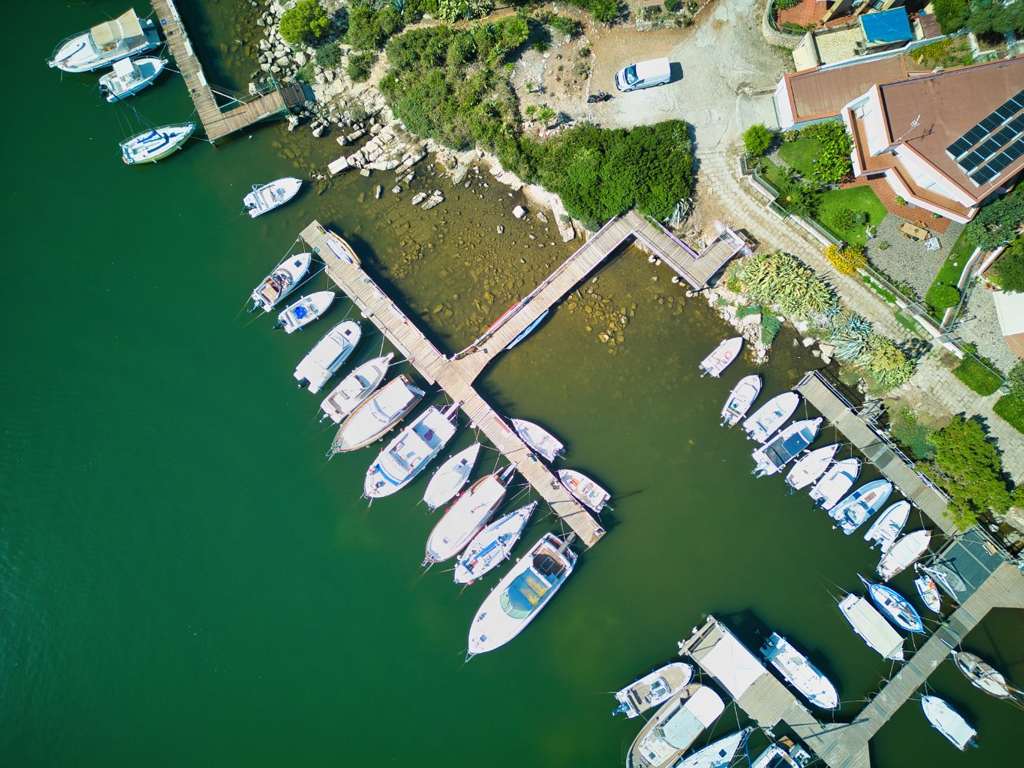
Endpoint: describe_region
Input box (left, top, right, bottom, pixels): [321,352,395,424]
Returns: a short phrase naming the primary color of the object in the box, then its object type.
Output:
white boat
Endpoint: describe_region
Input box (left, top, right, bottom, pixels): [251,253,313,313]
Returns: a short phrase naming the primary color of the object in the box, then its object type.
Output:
white boat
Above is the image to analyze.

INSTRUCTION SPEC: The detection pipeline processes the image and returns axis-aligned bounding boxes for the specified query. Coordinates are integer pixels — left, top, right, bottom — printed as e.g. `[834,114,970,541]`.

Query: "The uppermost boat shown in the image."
[43,10,170,73]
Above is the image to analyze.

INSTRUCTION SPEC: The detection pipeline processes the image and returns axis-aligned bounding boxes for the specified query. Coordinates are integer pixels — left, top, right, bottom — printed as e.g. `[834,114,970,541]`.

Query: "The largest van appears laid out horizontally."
[613,60,674,94]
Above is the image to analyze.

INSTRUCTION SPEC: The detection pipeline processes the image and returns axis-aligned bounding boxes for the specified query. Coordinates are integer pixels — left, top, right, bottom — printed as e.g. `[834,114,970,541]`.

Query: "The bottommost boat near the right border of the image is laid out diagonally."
[916,691,980,752]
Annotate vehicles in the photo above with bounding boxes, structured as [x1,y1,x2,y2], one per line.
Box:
[613,60,674,94]
[587,88,608,102]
